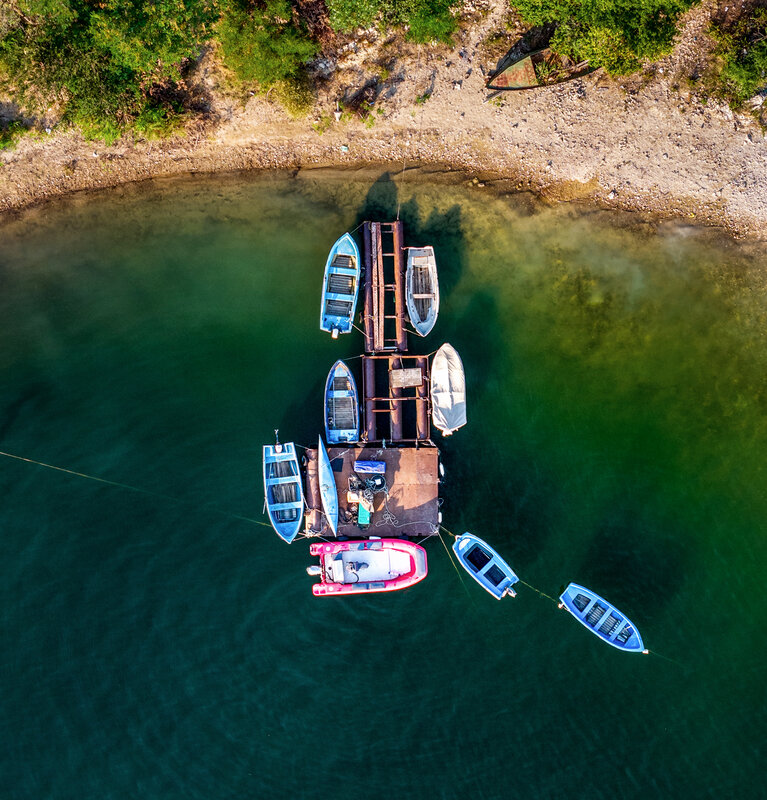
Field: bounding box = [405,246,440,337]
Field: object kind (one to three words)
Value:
boat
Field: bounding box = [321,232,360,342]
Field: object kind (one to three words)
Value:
boat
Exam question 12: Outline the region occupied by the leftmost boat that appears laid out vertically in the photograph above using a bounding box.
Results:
[261,430,305,544]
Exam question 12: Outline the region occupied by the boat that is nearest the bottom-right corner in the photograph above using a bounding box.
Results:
[558,582,644,652]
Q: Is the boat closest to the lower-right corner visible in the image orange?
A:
No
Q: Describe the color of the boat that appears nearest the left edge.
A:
blue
